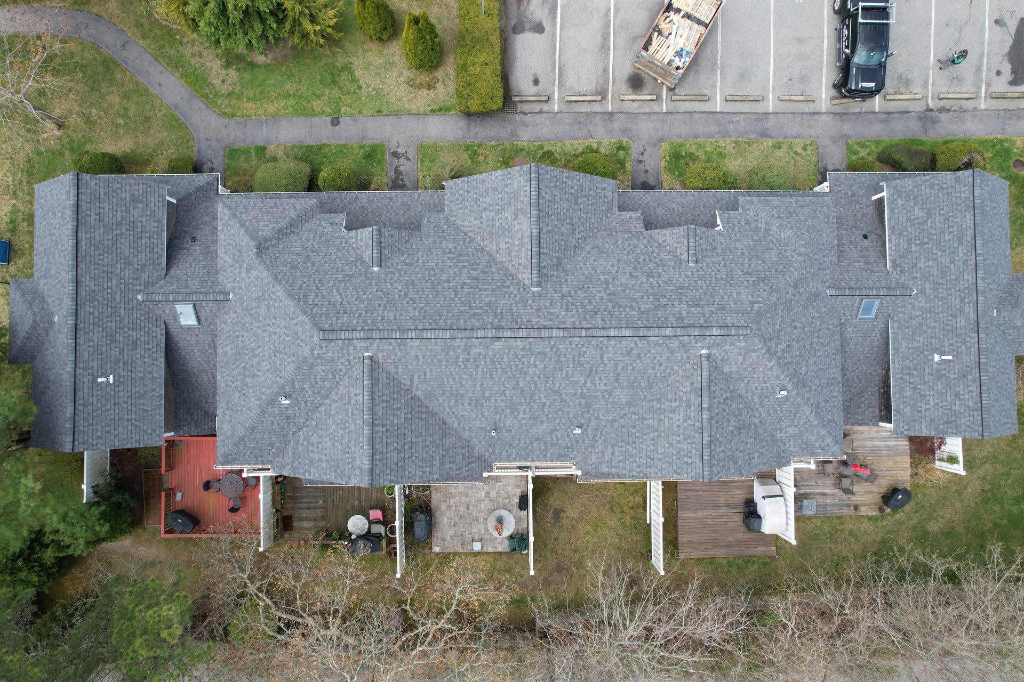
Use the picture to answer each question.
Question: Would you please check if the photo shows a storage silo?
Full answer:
No, this view has no storage silo in it.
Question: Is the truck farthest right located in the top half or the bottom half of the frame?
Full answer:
It is in the top half that the truck farthest right appears.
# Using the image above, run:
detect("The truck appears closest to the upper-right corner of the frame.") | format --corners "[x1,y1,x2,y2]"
[833,0,898,103]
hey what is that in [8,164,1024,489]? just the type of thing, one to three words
building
